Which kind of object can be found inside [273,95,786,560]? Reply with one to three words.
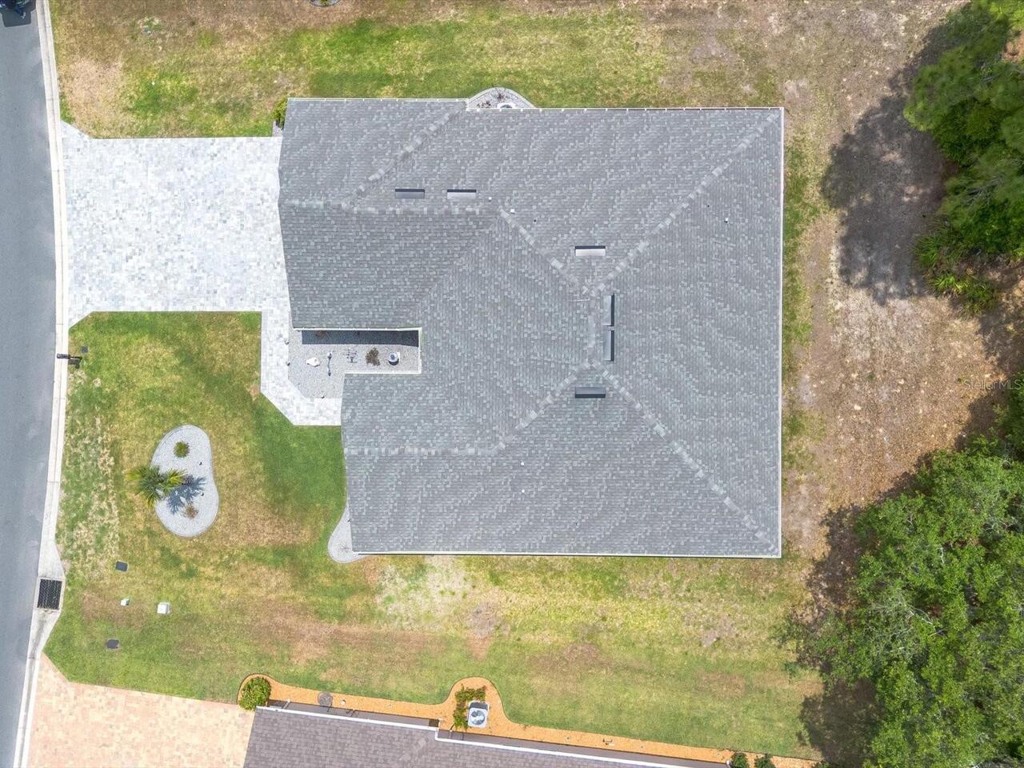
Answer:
house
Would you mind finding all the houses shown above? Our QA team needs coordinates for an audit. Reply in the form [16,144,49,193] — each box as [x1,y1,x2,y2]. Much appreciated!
[273,95,786,560]
[242,697,731,768]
